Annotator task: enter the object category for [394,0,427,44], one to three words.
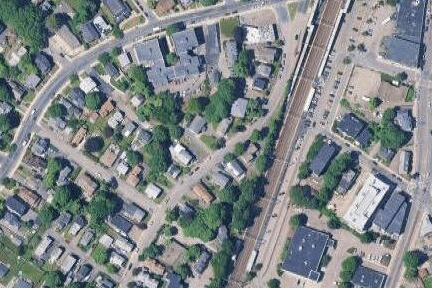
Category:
building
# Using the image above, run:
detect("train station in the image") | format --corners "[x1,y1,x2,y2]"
[287,0,351,121]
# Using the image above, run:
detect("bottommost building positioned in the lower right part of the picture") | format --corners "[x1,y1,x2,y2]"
[352,266,388,288]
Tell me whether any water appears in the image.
No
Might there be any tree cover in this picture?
Yes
